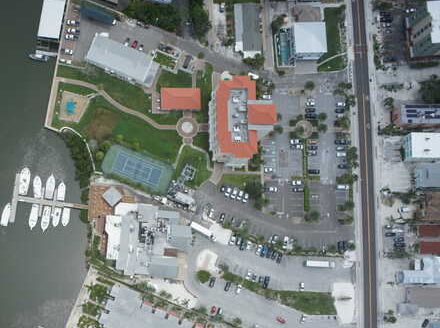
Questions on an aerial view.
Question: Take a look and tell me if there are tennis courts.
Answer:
Yes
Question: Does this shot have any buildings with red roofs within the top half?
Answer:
Yes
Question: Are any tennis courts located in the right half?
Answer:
No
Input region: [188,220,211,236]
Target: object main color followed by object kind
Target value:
white vehicle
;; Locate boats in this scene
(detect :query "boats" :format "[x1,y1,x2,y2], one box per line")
[32,54,48,61]
[41,205,50,232]
[1,203,12,228]
[53,206,62,226]
[62,206,70,226]
[19,168,29,196]
[28,203,39,230]
[33,175,42,198]
[58,181,65,201]
[47,171,55,199]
